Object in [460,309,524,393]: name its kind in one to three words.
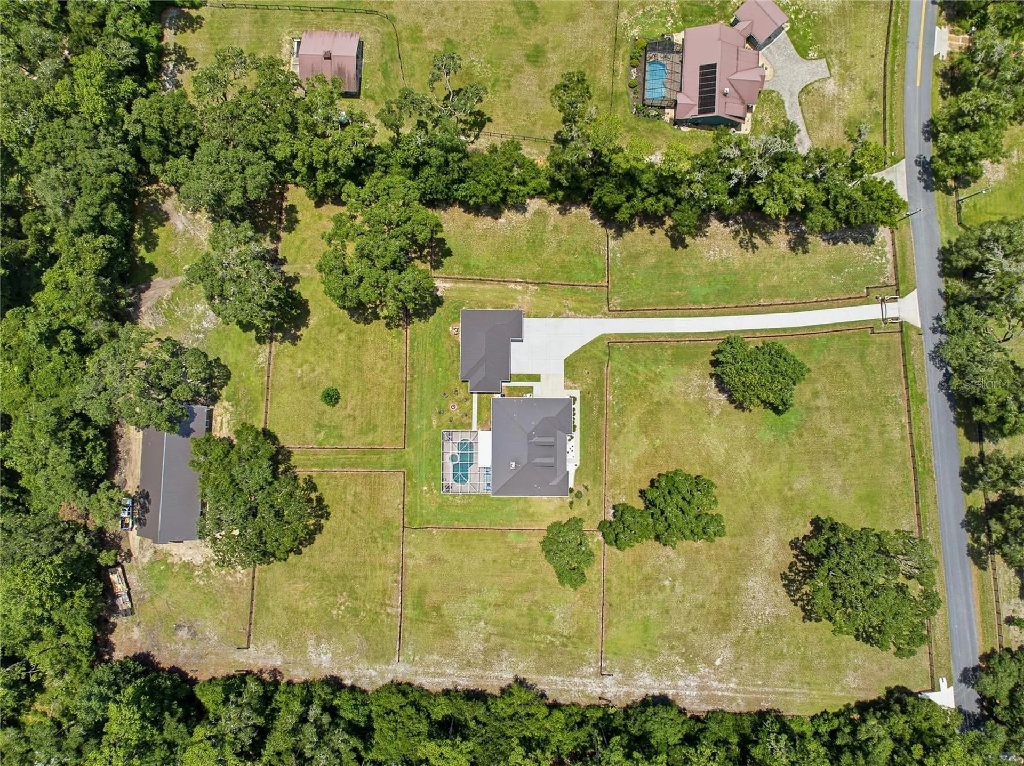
building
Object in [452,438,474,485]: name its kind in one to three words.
swimming pool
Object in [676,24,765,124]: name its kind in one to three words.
house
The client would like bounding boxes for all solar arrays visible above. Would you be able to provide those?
[698,63,716,113]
